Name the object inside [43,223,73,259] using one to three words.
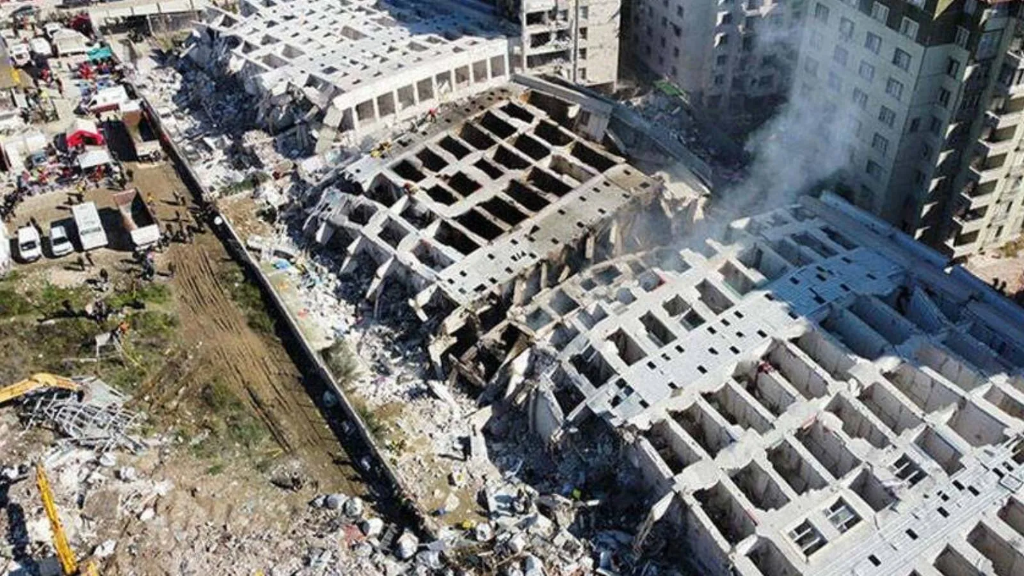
car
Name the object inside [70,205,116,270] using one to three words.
vehicle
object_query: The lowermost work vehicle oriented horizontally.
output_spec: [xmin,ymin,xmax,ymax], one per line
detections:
[0,368,92,400]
